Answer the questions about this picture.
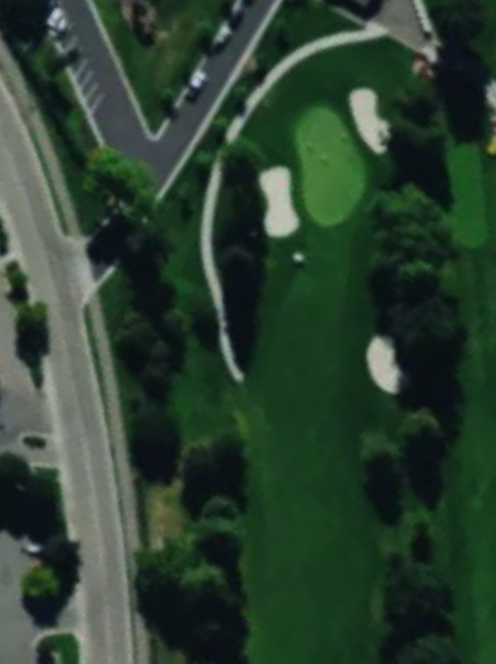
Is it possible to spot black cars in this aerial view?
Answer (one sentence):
Yes, the frame does contain a black car.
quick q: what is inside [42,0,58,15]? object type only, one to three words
car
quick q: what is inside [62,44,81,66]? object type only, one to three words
car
